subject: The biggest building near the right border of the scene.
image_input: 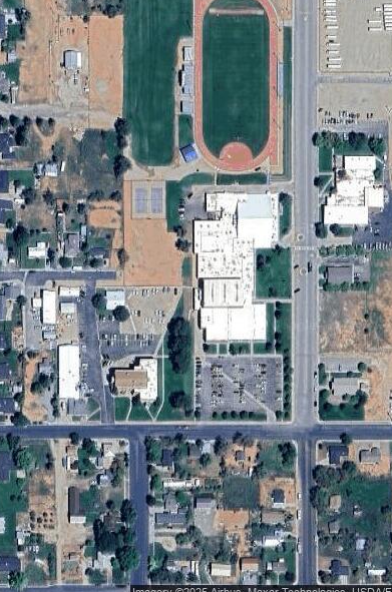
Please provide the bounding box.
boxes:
[324,156,384,224]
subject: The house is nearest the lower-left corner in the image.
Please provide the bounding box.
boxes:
[0,557,22,571]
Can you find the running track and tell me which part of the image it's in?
top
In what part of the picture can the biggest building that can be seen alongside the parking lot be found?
center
